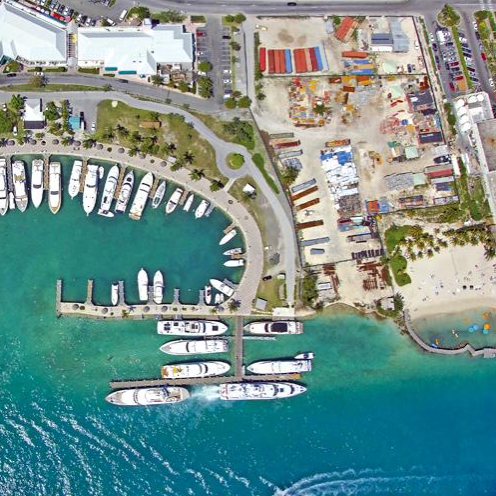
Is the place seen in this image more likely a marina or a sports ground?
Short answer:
marina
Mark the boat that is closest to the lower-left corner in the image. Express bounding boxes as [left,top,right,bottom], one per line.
[105,387,191,405]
